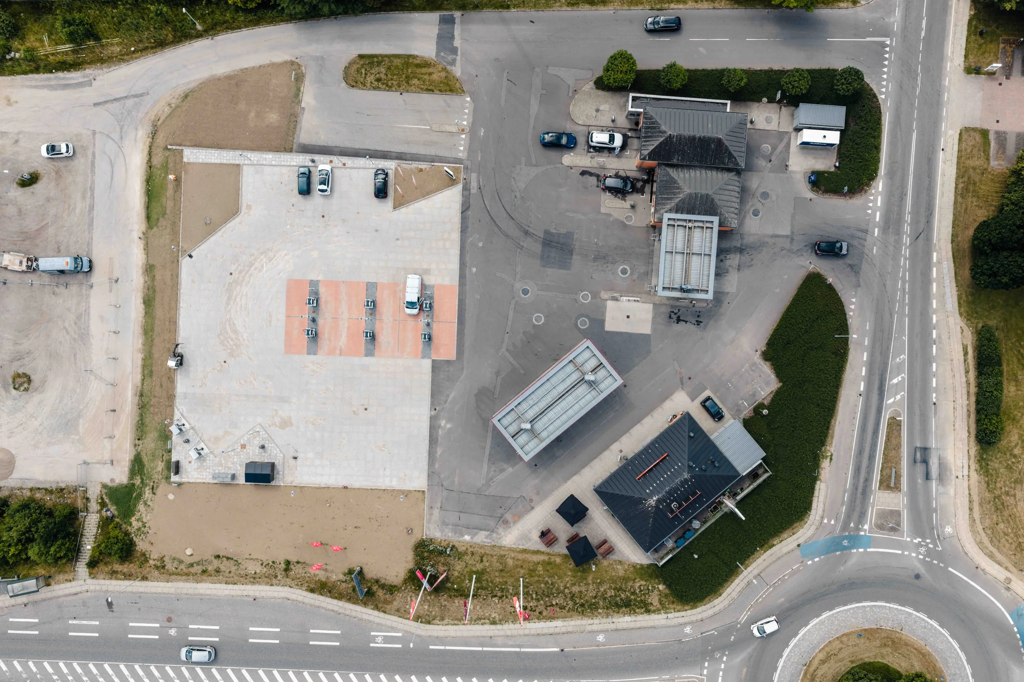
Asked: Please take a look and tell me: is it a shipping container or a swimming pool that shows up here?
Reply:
shipping container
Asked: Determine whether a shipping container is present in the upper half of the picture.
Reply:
Yes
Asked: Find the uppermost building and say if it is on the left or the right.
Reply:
right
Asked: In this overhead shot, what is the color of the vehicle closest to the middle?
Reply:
white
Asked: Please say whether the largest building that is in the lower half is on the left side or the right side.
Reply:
right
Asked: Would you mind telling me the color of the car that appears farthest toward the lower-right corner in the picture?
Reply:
white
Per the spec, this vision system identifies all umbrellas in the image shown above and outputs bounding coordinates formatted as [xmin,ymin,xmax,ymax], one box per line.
[556,494,589,527]
[566,536,598,567]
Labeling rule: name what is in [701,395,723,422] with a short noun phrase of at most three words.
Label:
car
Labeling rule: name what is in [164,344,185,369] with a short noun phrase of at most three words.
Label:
work vehicle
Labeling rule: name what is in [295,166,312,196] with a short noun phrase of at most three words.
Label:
car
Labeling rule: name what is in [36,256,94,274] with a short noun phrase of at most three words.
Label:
vehicle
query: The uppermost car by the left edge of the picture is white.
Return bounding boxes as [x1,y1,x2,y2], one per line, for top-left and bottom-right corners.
[40,140,74,158]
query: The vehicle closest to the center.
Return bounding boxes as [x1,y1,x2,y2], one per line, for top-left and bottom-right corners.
[403,275,425,314]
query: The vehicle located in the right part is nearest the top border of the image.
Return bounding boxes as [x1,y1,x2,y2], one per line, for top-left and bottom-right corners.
[644,13,681,32]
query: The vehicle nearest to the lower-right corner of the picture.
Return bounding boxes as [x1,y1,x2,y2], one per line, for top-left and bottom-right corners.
[751,616,780,638]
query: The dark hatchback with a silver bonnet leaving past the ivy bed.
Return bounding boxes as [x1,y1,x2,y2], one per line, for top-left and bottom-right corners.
[814,239,848,257]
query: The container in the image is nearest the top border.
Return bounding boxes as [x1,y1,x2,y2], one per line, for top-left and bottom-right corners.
[792,102,846,131]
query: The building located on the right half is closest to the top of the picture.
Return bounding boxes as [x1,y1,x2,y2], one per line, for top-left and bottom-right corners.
[626,93,748,168]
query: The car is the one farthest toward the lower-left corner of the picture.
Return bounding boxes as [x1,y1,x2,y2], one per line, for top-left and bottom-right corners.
[181,646,215,664]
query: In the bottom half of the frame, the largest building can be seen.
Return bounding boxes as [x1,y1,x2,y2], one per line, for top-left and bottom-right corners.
[593,411,741,554]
